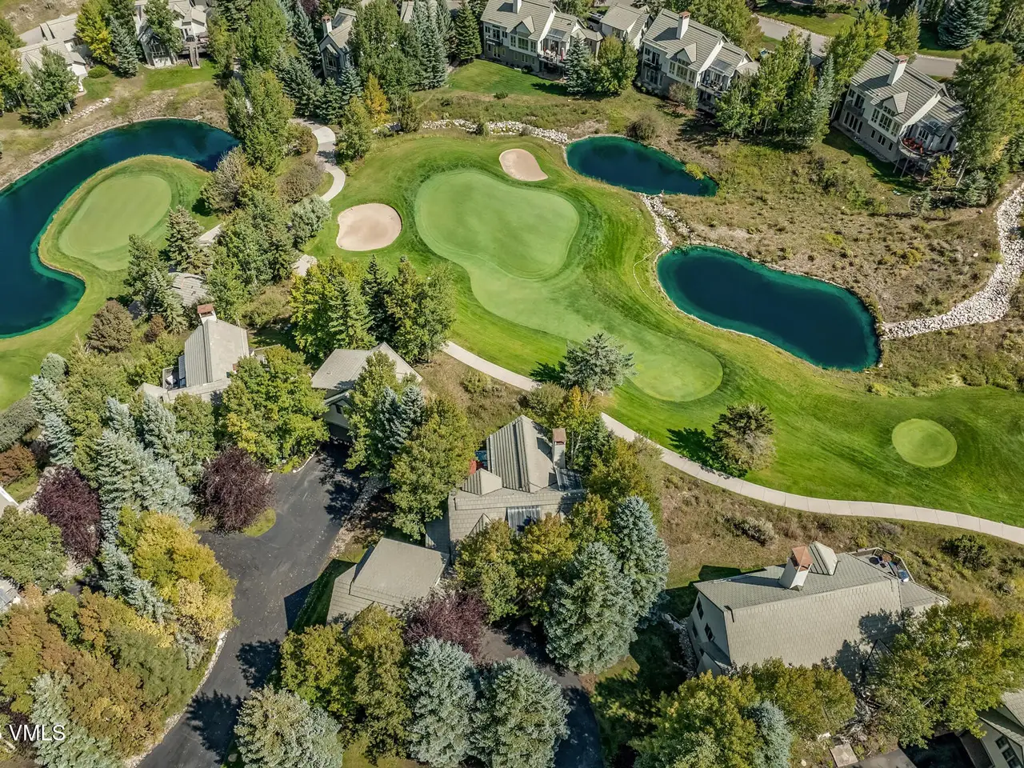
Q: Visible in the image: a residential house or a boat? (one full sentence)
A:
I can see a residential house in this picture.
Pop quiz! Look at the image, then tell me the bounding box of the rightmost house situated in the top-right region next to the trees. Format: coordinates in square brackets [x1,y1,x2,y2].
[840,50,980,172]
